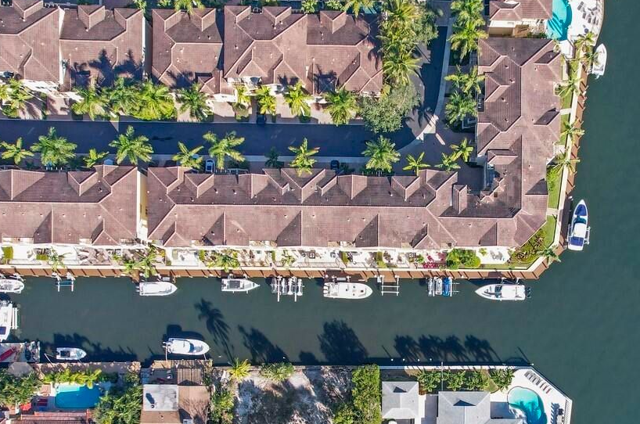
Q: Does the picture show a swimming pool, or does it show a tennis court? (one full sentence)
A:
Of the two, only a swimming pool appears.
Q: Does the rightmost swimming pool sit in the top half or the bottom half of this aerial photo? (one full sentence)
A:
The top half of the photo is where the rightmost swimming pool is.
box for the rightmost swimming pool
[546,0,574,41]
